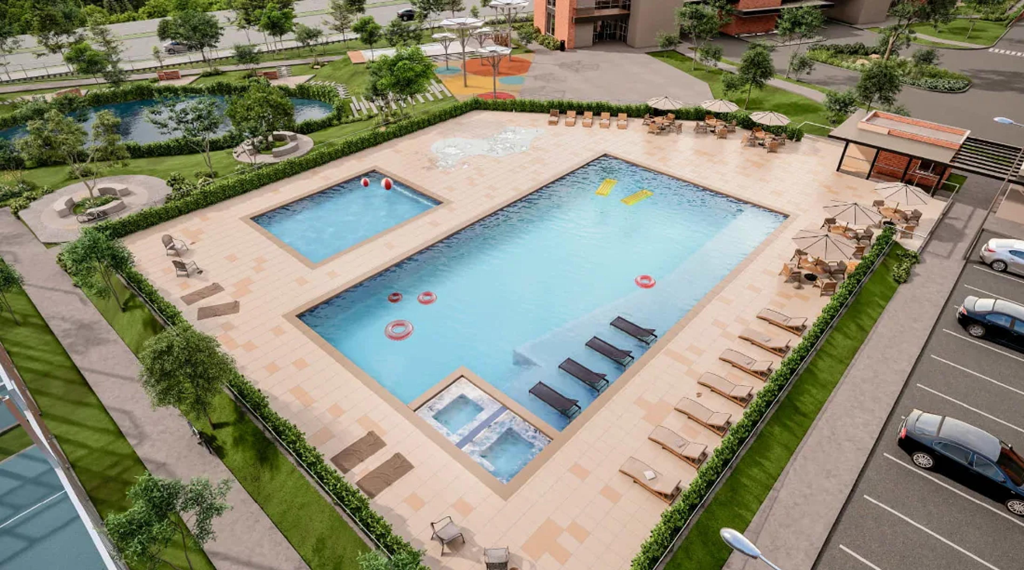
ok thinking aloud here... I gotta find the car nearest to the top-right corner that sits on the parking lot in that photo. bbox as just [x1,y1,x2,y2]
[979,238,1024,273]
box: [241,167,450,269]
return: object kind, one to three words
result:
swimming pool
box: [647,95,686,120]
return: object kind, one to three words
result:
umbrella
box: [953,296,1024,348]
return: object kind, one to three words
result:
car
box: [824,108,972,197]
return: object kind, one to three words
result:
building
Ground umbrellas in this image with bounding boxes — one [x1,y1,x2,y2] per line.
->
[874,182,934,224]
[699,97,737,122]
[647,95,686,120]
[834,197,895,240]
[793,227,859,265]
[748,109,789,135]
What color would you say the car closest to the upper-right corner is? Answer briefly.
white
